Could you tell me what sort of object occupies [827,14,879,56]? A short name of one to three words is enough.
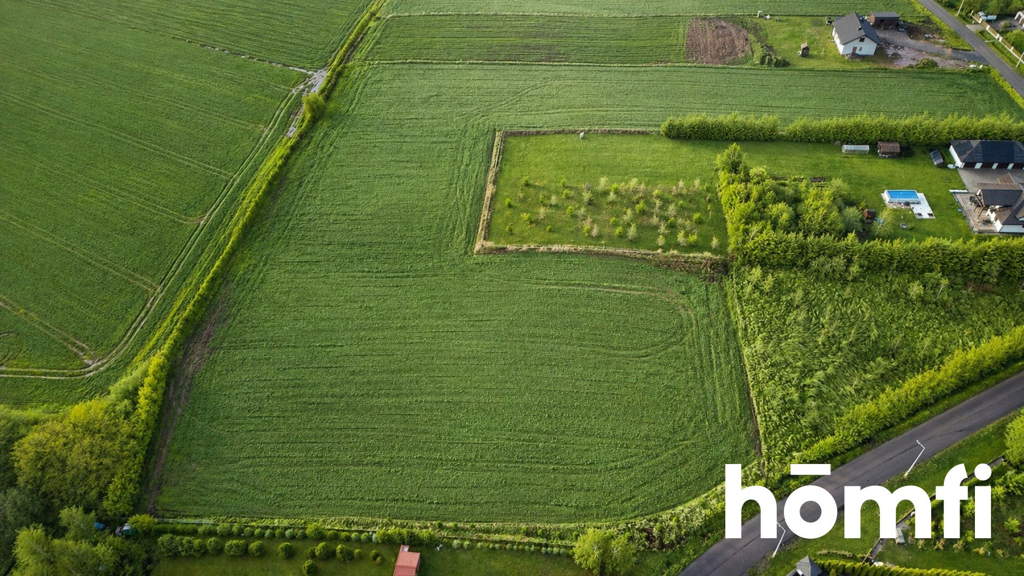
house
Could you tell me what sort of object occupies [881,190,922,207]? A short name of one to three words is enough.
swimming pool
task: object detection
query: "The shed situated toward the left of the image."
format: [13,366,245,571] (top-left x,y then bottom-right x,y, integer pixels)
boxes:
[391,544,423,576]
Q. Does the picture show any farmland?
Yes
